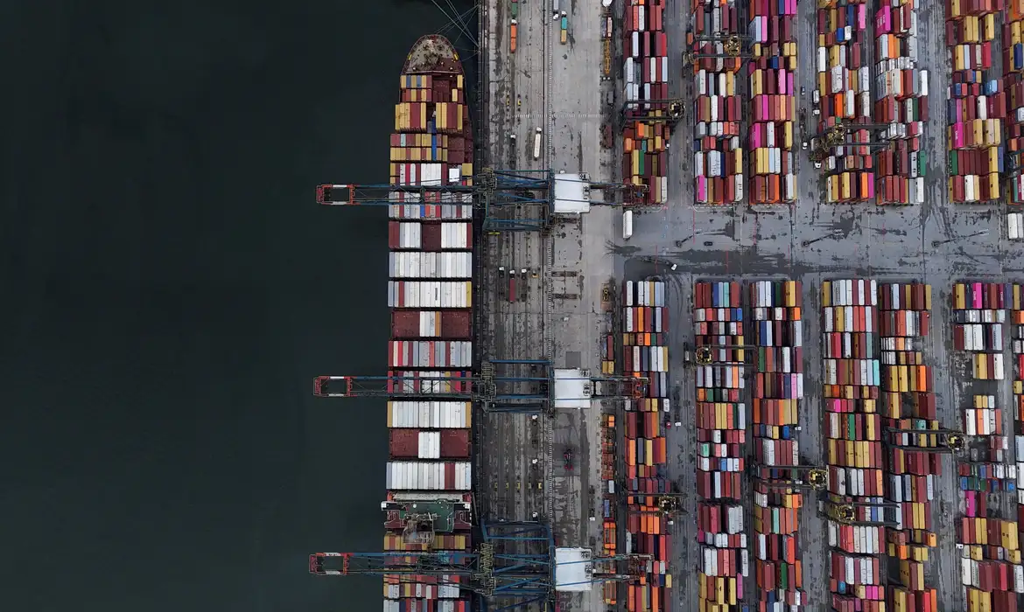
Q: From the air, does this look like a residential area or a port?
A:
port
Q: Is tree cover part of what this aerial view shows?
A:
No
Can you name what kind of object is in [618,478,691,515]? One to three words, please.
container crane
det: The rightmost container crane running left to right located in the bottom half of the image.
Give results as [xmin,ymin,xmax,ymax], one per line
[862,418,967,452]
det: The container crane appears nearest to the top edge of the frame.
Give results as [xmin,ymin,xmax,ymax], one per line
[679,34,756,79]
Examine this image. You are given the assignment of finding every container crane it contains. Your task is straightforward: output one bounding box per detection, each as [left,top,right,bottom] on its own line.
[809,487,901,528]
[316,165,655,245]
[617,97,688,137]
[313,347,657,416]
[311,503,659,597]
[805,122,894,162]
[679,34,756,79]
[862,418,967,452]
[618,478,691,515]
[740,453,828,488]
[681,340,759,370]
